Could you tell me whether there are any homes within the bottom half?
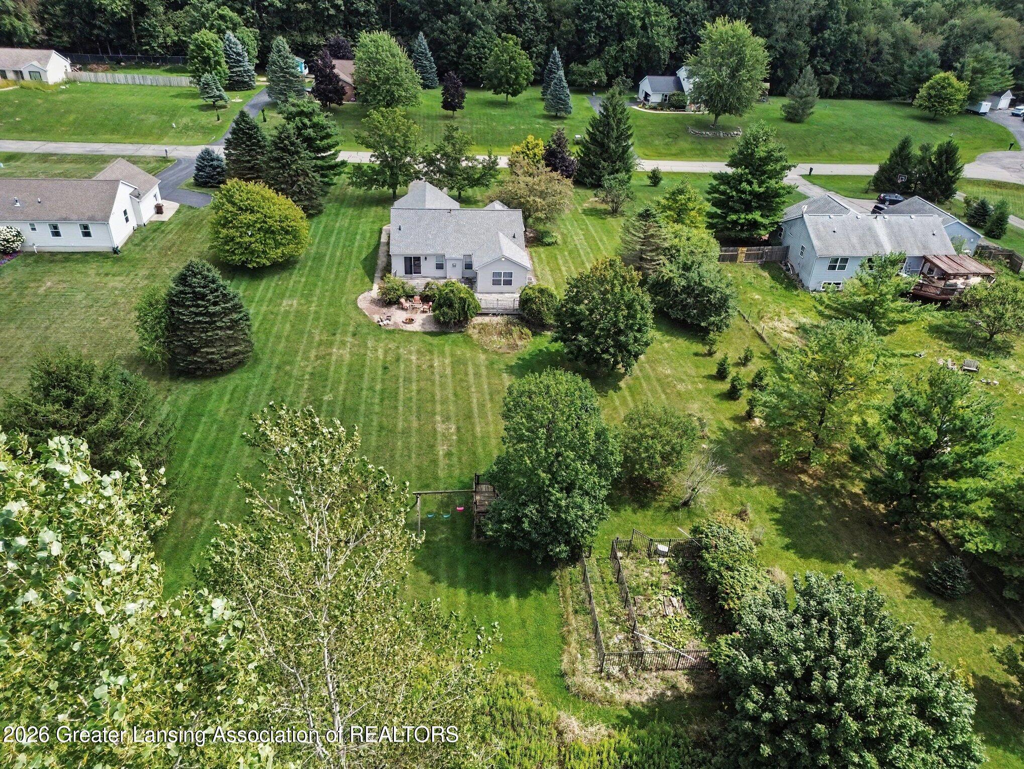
No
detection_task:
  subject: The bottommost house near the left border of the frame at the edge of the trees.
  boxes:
[0,156,167,254]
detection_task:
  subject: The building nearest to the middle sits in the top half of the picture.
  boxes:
[388,183,532,292]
